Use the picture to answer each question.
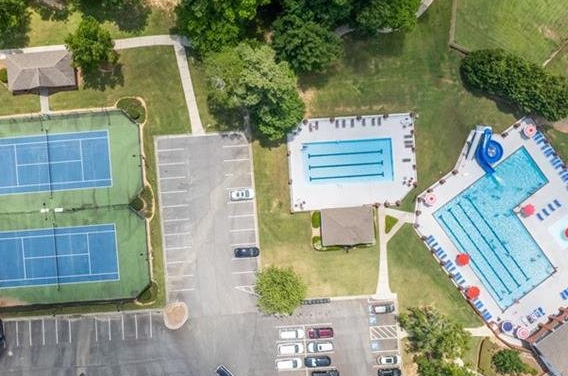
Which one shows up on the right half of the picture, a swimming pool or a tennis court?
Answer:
swimming pool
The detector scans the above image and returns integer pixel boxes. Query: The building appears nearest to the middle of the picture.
[320,205,375,246]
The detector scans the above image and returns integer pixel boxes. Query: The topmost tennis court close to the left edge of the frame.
[0,110,143,214]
